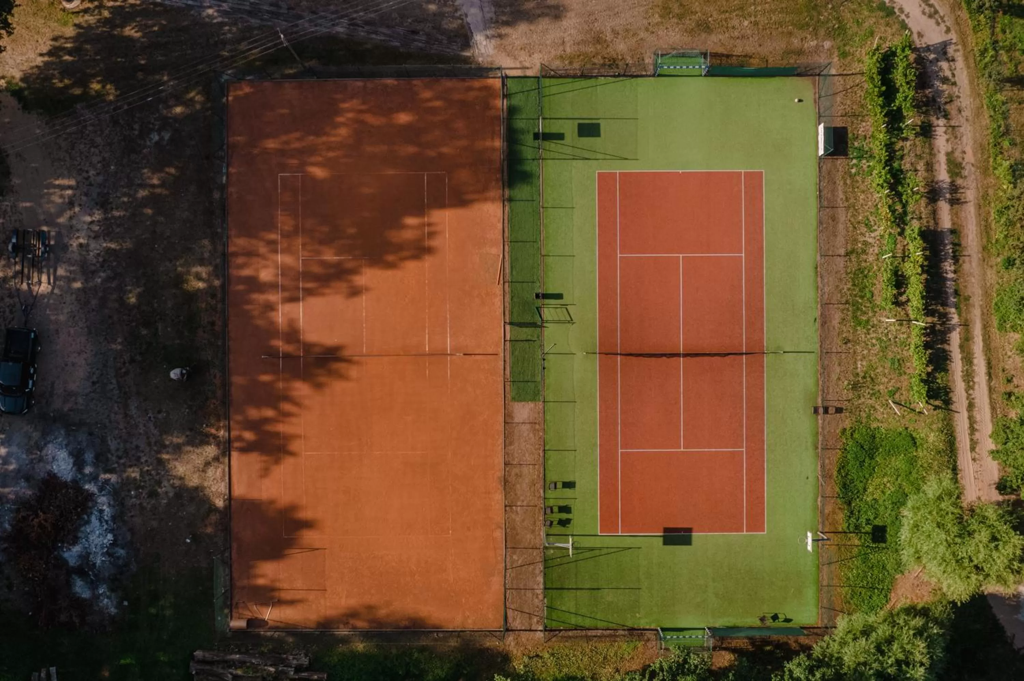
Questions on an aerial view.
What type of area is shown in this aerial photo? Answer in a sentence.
The picture captures a sports ground.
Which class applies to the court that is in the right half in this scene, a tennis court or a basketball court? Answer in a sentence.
Specifically, the court that is in the right half is a tennis court.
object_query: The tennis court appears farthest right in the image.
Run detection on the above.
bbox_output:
[540,76,822,629]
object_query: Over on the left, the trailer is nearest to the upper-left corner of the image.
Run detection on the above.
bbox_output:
[7,228,48,330]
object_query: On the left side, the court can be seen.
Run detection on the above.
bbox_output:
[225,76,504,632]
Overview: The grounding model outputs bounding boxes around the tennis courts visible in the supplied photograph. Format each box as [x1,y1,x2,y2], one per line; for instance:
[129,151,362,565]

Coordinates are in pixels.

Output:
[225,76,504,632]
[540,76,822,629]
